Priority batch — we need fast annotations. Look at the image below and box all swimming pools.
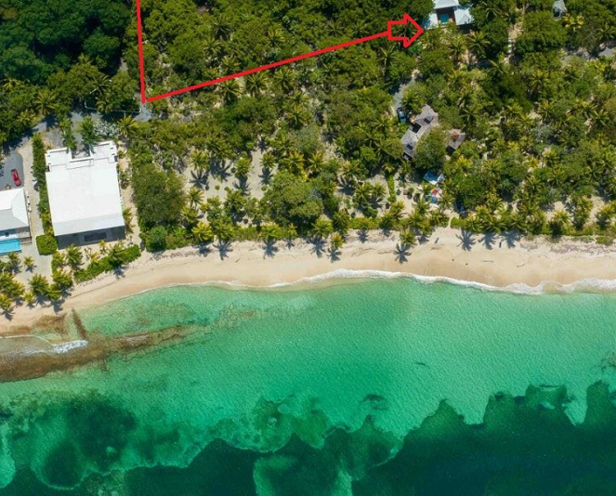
[439,11,450,23]
[0,238,22,254]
